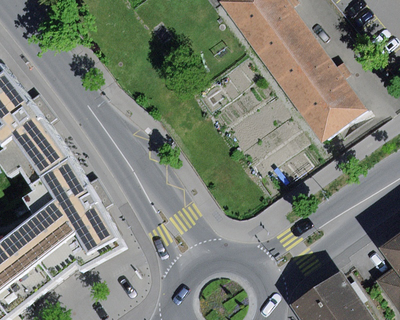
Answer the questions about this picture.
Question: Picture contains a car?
Yes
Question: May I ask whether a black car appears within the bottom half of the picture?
Yes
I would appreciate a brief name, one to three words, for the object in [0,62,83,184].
building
